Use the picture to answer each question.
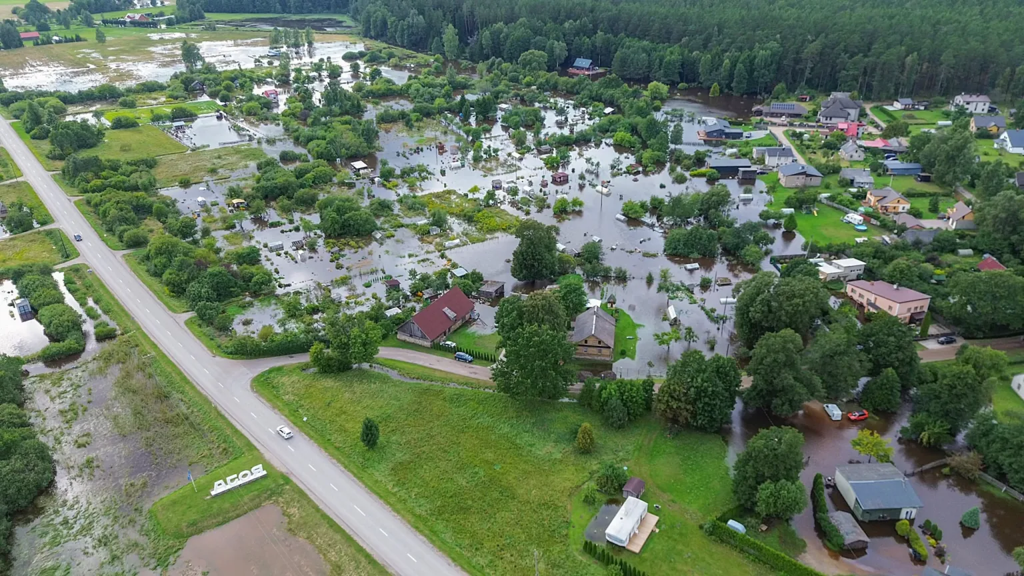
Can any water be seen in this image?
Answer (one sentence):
Yes, there's water in this view.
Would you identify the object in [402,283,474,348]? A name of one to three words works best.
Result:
barn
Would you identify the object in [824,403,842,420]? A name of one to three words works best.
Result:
vehicle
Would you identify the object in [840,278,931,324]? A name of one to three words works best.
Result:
house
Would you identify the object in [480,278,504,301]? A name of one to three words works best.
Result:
shed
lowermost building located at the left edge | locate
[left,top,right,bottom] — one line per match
[9,299,32,321]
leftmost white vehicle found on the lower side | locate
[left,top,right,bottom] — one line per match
[276,425,293,439]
